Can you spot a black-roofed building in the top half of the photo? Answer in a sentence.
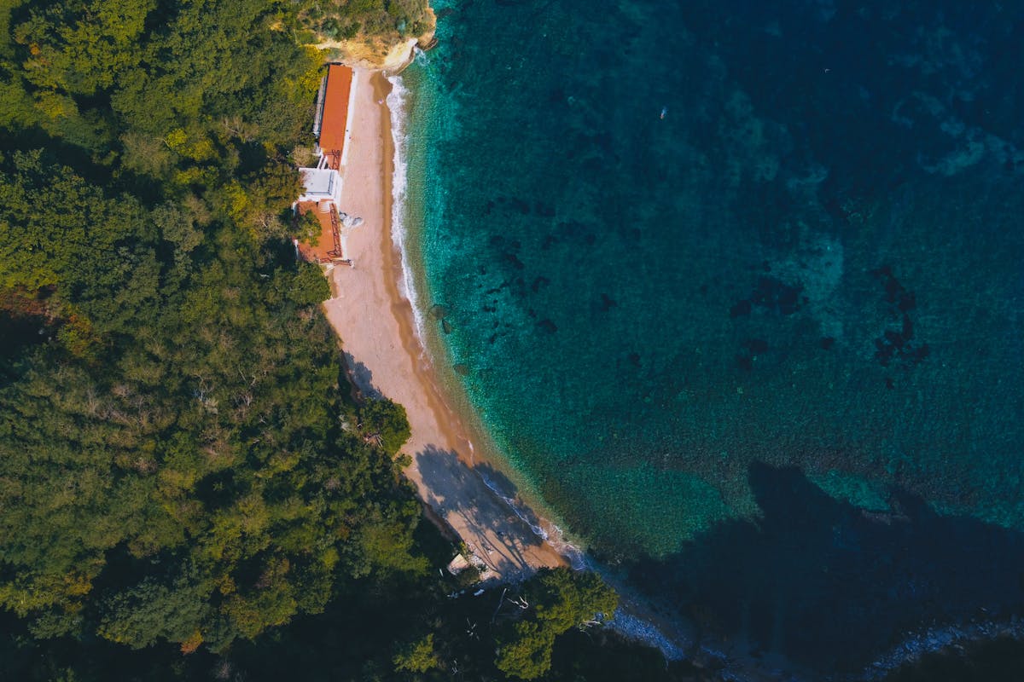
No, there is no black-roofed building in the top half of the photo.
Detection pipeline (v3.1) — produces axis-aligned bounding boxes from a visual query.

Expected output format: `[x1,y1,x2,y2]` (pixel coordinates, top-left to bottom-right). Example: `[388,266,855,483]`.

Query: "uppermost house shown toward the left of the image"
[319,64,353,148]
